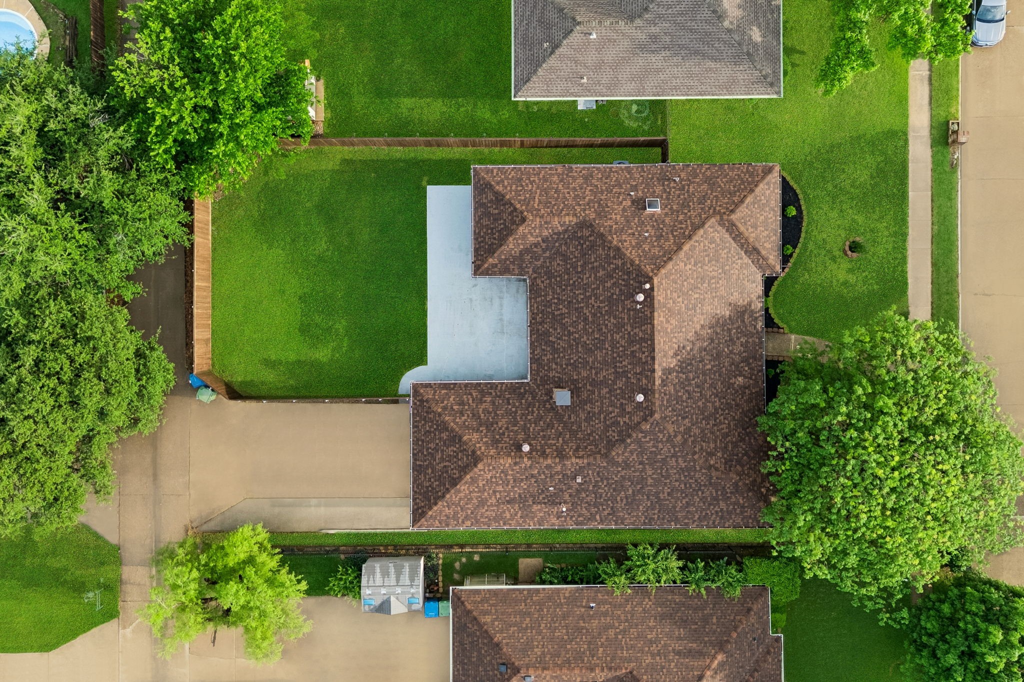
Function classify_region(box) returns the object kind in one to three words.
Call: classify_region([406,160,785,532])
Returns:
house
